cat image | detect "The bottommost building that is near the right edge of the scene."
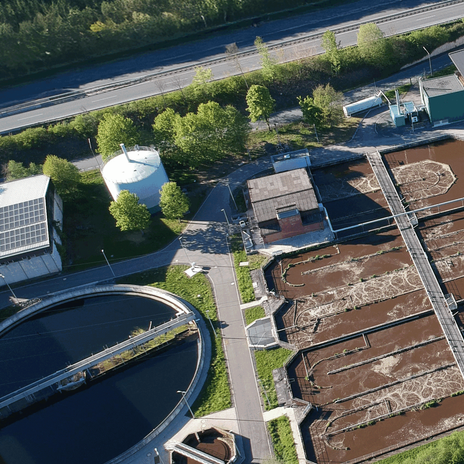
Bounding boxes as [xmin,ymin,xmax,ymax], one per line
[413,74,464,125]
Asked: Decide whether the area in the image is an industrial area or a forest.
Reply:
industrial area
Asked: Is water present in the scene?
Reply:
Yes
